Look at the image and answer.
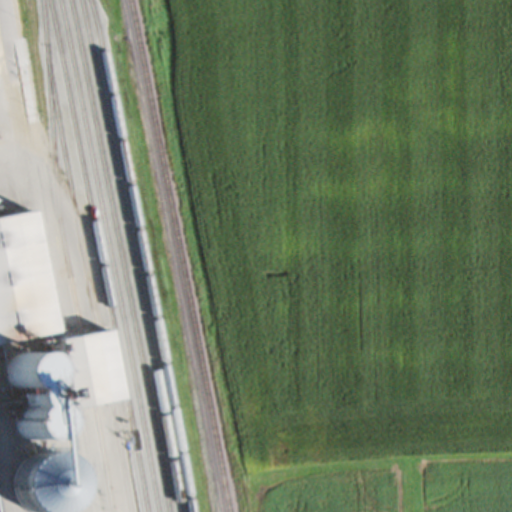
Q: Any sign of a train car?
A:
Yes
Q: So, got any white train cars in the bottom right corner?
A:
No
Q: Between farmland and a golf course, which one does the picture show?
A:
farmland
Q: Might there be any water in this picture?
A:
No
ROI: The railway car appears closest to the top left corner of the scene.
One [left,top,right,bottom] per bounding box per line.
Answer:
[102,49,119,94]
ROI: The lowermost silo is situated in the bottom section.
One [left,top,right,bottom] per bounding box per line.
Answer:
[14,450,100,512]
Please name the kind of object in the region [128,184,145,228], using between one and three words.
rail car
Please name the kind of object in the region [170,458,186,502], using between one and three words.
rail car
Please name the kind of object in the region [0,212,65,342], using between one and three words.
shed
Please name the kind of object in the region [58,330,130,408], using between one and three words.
shed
